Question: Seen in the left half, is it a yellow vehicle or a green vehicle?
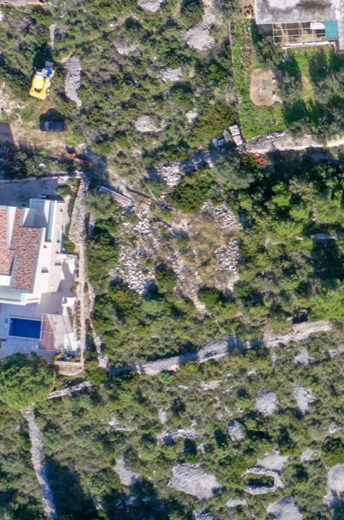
yellow vehicle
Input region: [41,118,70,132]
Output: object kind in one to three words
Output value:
vehicle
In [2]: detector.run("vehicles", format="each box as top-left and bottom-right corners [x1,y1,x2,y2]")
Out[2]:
[30,60,59,102]
[41,118,70,132]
